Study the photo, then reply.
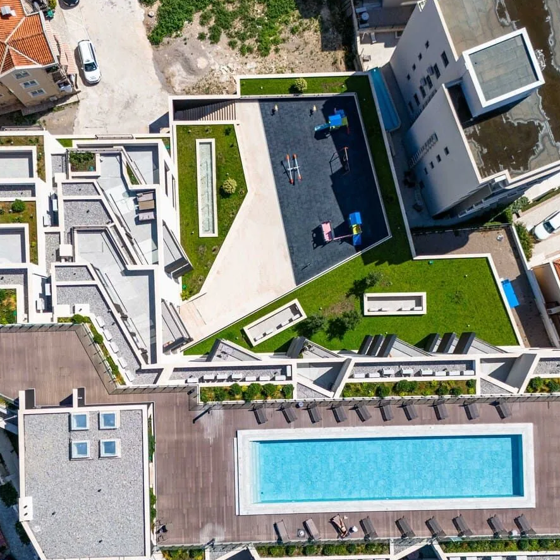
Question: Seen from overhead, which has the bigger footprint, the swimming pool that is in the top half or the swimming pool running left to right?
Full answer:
The swimming pool running left to right is larger than the swimming pool that is in the top half.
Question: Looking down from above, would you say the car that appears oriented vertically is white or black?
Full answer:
The car that appears oriented vertically looks white in the image.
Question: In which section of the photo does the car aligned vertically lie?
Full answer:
The car aligned vertically sits in the top left section of the image.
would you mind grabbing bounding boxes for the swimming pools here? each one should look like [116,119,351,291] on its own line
[268,435,518,499]
[373,71,399,134]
